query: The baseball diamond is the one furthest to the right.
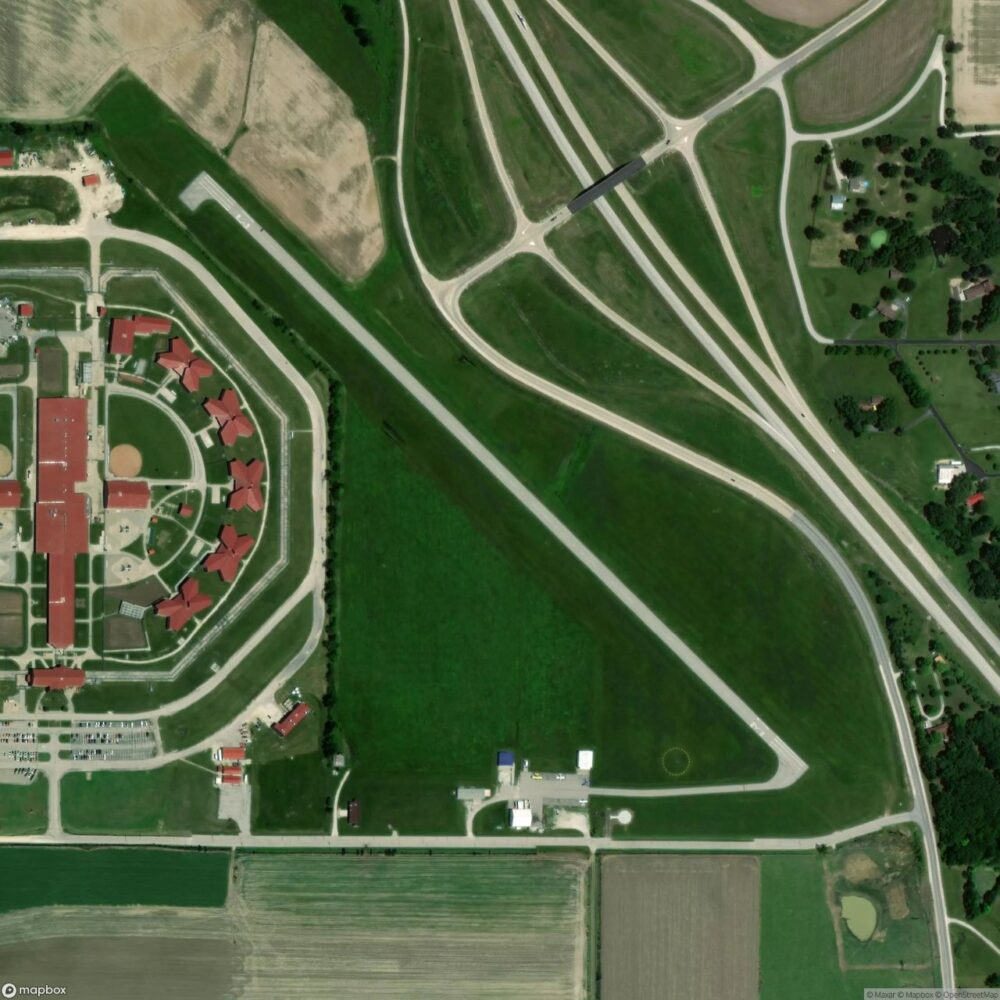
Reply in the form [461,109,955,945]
[107,388,190,478]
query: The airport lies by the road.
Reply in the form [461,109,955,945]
[180,172,809,821]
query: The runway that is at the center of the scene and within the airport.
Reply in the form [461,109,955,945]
[208,174,807,764]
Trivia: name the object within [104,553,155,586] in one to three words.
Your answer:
basketball court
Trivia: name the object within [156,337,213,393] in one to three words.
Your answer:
building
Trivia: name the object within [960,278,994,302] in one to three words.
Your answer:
house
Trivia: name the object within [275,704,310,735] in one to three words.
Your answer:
shed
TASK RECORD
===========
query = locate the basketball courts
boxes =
[104,553,155,586]
[105,511,147,551]
[0,556,16,583]
[0,511,16,551]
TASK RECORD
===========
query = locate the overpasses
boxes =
[567,156,646,214]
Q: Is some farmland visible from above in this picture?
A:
Yes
